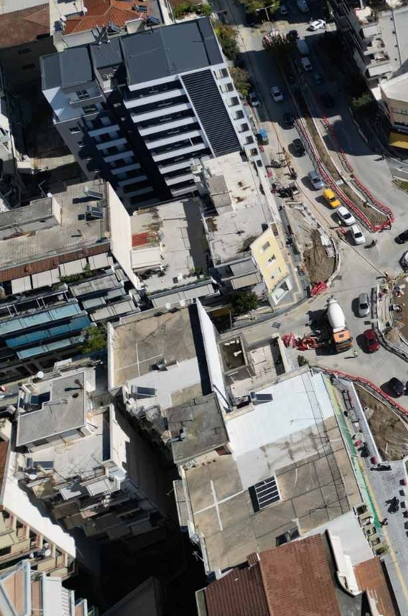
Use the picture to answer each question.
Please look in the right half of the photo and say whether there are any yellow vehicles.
Yes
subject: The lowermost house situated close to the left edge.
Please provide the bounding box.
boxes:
[0,563,105,616]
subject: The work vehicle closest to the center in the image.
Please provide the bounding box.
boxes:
[298,333,321,349]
